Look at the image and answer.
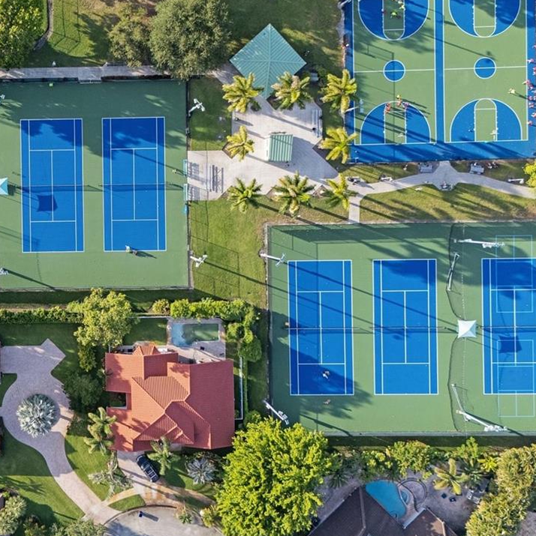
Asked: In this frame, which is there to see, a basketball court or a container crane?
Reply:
basketball court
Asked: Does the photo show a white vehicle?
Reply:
No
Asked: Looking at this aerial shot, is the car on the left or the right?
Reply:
left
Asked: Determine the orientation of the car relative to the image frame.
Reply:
diagonally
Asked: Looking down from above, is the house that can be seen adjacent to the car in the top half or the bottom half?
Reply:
bottom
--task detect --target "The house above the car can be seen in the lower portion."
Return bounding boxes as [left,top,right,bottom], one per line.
[106,345,235,452]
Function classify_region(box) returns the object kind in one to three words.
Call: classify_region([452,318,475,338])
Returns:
tent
